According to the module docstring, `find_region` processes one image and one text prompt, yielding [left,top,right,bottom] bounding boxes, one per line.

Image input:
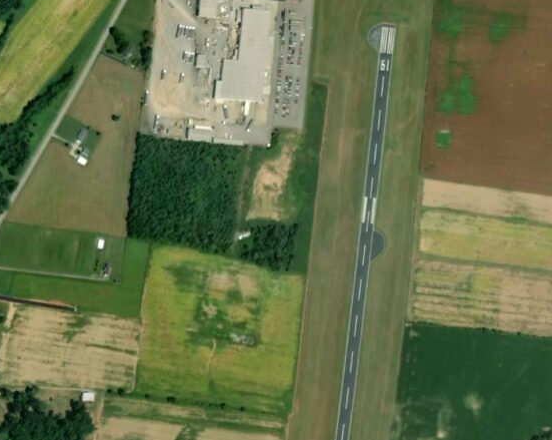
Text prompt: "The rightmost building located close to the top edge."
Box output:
[215,8,275,100]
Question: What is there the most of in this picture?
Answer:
farmland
